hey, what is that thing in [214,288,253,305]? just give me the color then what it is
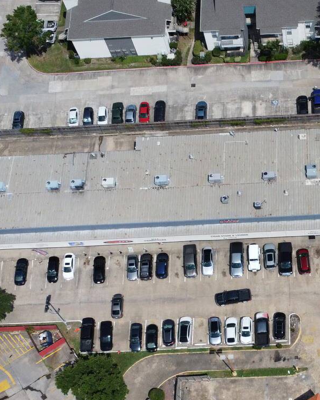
black vehicle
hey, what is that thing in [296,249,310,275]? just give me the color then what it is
red vehicle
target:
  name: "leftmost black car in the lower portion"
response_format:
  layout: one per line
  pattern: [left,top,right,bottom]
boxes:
[15,260,29,286]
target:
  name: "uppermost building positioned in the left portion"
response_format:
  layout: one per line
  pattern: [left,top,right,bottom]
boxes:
[66,0,177,58]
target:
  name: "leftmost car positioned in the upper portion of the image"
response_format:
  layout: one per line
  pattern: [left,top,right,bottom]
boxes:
[12,111,25,128]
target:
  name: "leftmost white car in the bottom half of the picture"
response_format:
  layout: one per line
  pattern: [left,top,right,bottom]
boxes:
[61,253,76,281]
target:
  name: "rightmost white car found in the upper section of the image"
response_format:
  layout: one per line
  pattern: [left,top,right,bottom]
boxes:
[96,106,109,124]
